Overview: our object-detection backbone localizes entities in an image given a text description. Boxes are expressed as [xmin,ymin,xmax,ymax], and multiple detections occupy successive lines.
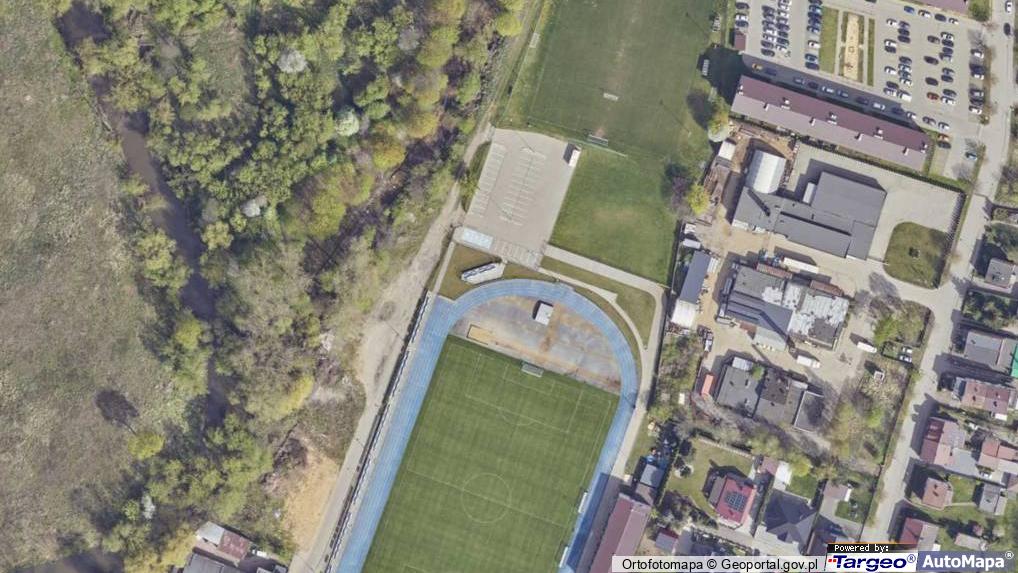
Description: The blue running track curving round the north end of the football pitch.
[339,278,637,573]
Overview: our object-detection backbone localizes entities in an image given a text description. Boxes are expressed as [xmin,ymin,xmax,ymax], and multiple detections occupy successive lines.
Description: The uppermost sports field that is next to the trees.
[529,0,712,160]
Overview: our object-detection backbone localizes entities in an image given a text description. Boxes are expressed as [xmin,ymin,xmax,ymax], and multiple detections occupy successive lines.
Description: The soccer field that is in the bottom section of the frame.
[360,334,619,573]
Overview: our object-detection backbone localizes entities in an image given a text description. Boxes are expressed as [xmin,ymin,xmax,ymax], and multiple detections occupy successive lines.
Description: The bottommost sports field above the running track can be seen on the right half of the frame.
[552,155,684,283]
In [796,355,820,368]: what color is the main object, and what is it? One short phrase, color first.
white vehicle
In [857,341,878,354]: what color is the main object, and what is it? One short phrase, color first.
white vehicle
